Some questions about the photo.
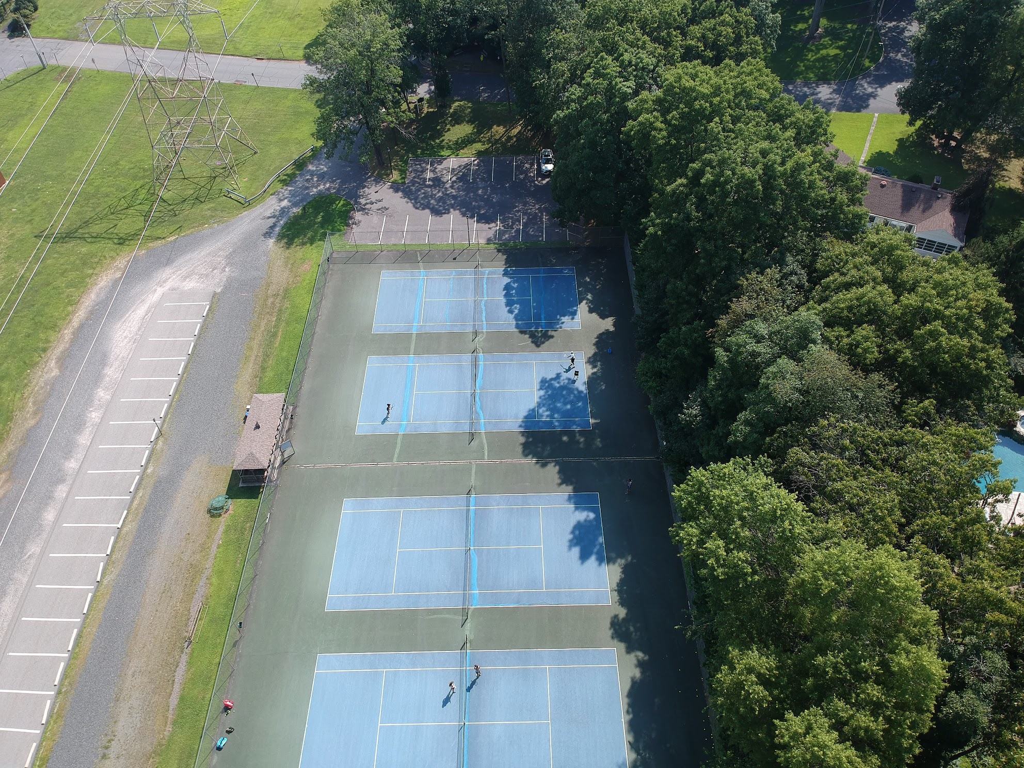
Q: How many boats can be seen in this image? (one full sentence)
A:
No boats are visible.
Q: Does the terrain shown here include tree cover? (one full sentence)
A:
Yes, some tree cover is visible.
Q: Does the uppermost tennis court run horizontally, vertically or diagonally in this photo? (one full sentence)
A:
Seen from above, the uppermost tennis court lies horizontally.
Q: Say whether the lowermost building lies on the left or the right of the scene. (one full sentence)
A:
It is on the left.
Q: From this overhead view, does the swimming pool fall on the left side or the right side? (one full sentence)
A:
The swimming pool appears in the right half of the scene.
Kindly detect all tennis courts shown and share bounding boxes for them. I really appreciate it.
[325,493,611,611]
[372,267,581,333]
[355,351,592,434]
[299,648,629,768]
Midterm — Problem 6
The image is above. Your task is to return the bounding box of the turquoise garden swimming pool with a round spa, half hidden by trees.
[956,408,1024,537]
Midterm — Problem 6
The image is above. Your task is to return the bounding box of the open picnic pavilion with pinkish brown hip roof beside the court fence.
[231,393,289,484]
